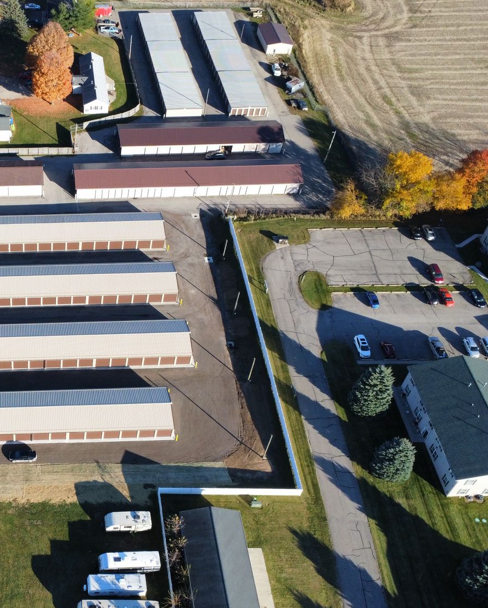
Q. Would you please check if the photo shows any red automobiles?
Yes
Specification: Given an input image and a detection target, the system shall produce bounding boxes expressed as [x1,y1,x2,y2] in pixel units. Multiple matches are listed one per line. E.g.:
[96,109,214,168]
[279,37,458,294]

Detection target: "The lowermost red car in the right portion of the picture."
[437,289,455,306]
